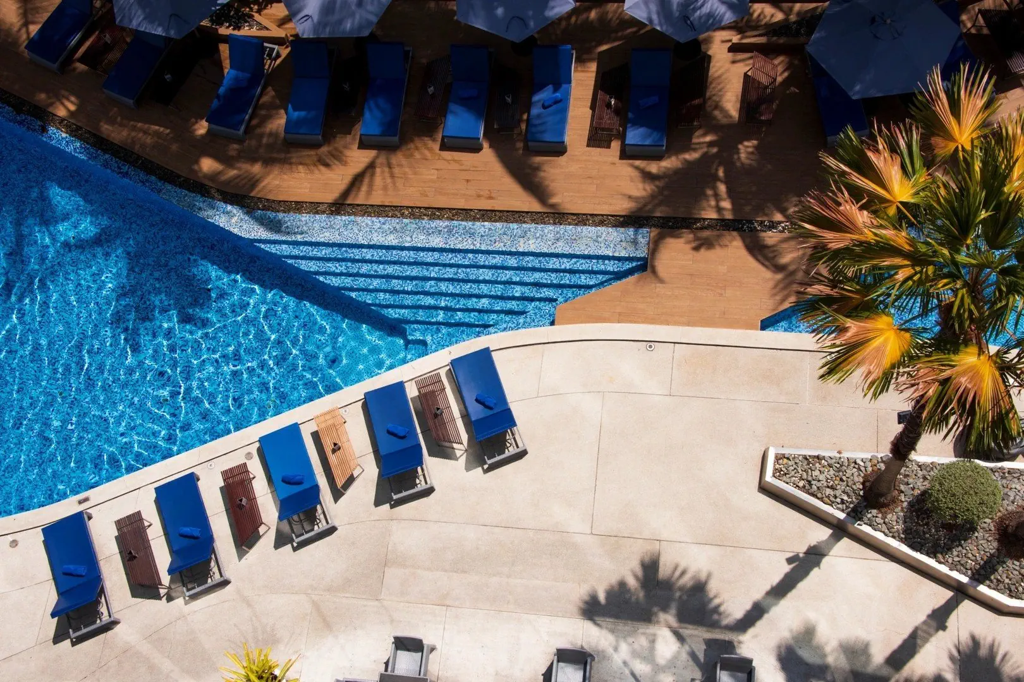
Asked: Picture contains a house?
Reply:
No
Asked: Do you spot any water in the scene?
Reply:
Yes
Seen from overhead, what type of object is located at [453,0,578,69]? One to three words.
umbrella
